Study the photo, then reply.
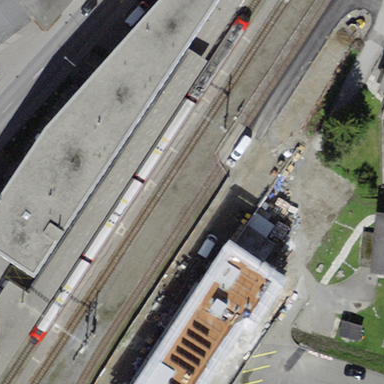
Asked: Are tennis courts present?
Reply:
No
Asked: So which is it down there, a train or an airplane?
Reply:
train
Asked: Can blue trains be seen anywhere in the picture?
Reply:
No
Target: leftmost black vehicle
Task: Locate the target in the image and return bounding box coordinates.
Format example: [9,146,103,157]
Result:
[80,0,96,15]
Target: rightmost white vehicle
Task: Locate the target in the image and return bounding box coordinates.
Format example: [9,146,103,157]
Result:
[230,136,250,162]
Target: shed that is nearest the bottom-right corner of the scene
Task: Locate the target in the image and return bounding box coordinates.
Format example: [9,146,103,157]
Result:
[338,322,364,344]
